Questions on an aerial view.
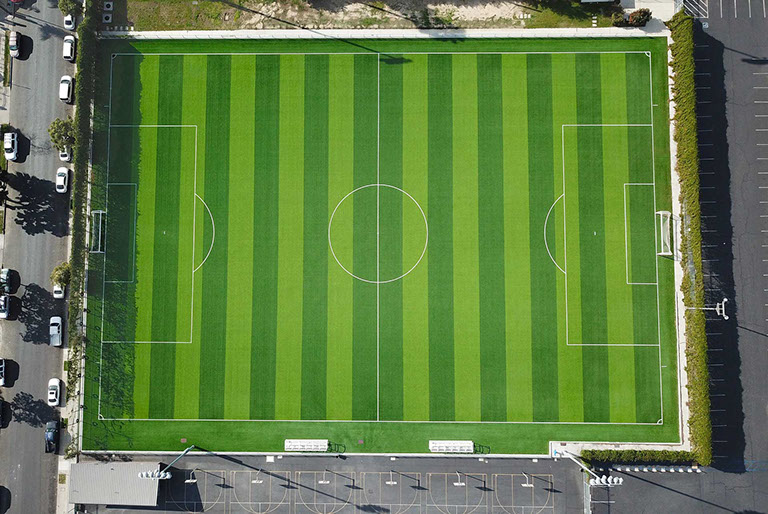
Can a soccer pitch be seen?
Yes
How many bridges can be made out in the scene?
none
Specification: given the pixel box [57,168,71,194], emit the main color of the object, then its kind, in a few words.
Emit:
white car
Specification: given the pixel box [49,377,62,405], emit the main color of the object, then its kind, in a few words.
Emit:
white vehicle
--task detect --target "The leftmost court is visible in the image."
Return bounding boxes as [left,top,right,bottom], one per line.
[164,470,226,514]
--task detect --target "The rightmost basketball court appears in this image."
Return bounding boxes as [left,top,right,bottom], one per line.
[492,473,554,514]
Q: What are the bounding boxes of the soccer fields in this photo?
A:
[80,36,680,456]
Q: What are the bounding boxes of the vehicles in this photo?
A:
[64,14,78,39]
[0,357,9,385]
[57,168,71,194]
[49,377,62,405]
[53,276,67,300]
[0,399,7,428]
[0,267,14,294]
[60,77,74,104]
[10,33,25,61]
[4,132,20,161]
[59,143,72,166]
[0,295,12,321]
[46,419,61,452]
[50,315,65,347]
[63,38,76,63]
